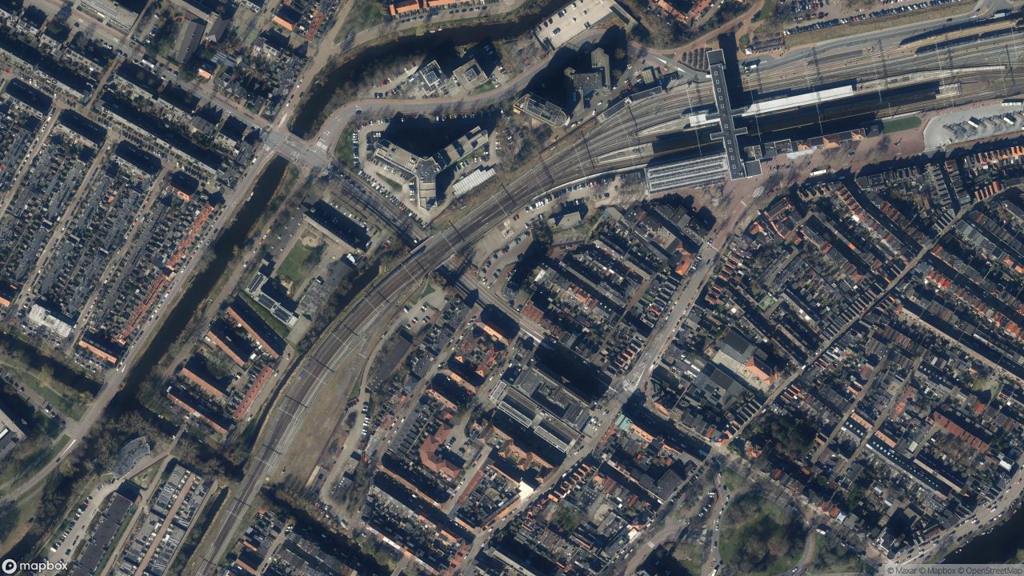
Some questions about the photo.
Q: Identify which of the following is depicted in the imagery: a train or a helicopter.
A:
train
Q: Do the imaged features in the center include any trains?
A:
No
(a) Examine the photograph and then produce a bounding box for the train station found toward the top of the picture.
[531,48,1006,201]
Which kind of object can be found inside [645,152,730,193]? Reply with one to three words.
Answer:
shed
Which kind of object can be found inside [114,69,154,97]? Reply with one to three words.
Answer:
building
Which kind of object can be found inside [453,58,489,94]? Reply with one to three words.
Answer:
building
